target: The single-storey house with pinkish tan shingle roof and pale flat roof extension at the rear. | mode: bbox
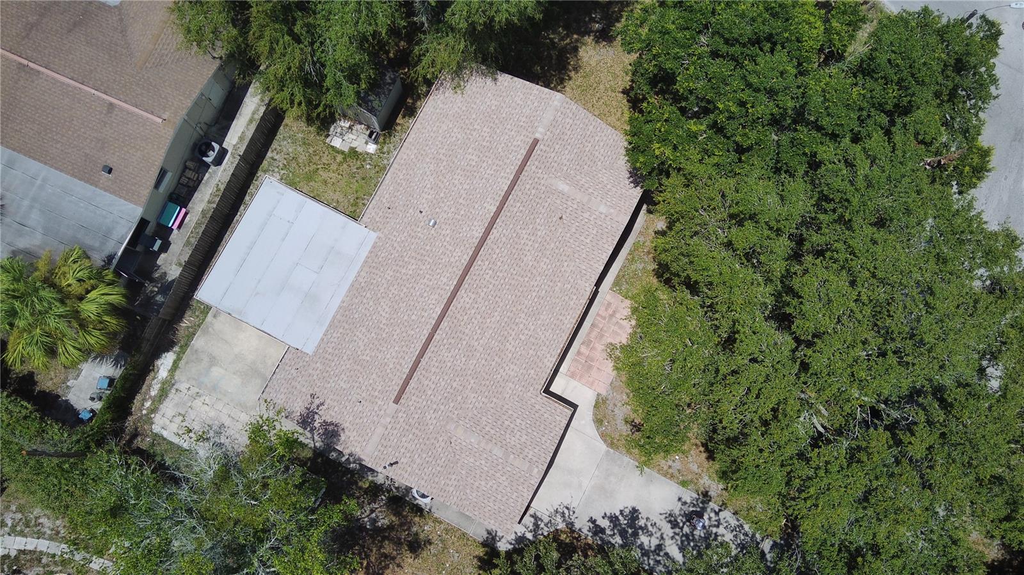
[192,56,653,537]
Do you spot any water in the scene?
No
